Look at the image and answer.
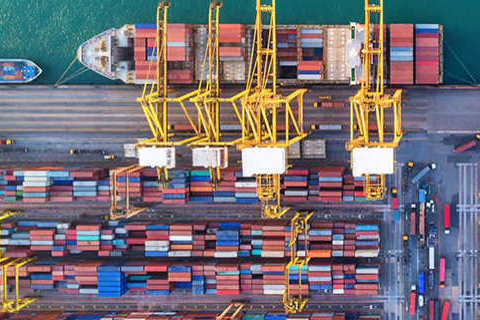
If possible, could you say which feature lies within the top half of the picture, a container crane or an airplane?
container crane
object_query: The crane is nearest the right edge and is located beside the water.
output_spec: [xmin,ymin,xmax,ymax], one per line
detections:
[346,0,409,200]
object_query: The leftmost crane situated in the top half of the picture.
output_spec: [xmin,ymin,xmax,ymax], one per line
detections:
[136,4,207,192]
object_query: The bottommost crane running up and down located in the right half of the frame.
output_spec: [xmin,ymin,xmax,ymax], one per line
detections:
[286,256,311,320]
